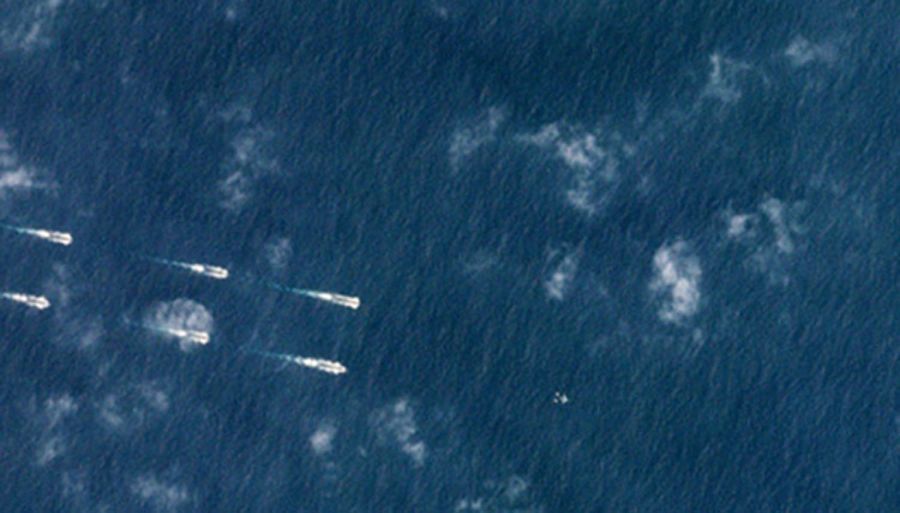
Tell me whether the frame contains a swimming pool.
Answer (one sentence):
No, there's no swimming pool here.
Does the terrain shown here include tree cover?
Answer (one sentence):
No, there's no tree cover in this view.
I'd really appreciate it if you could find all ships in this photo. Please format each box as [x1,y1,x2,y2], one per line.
[192,265,226,275]
[318,293,357,304]
[36,230,69,241]
[171,330,207,340]
[13,295,47,306]
[306,360,344,372]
